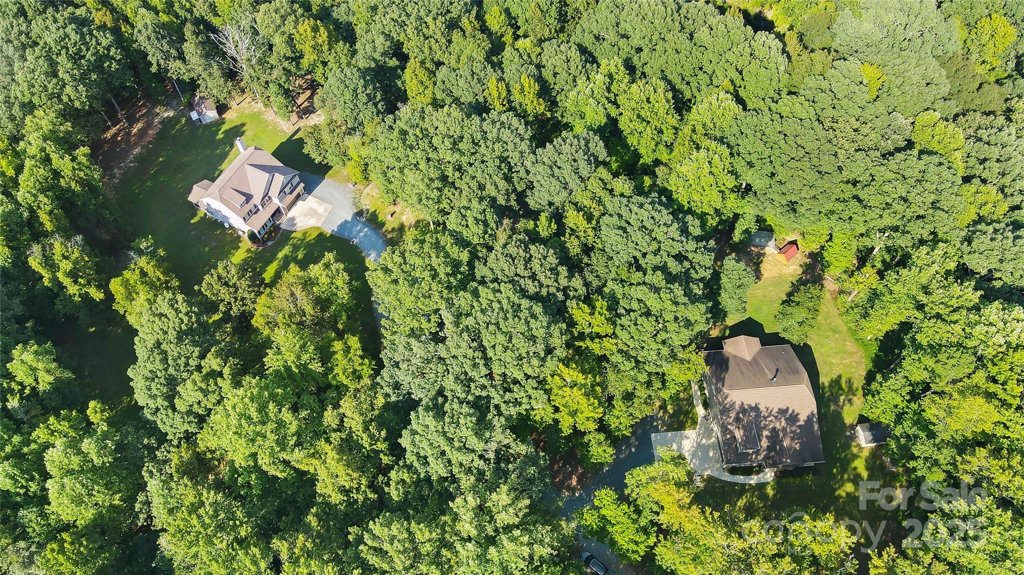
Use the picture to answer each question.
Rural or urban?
rural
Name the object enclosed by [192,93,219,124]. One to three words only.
shed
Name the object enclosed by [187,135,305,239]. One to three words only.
house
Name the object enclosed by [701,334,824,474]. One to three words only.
house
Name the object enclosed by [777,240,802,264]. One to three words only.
shed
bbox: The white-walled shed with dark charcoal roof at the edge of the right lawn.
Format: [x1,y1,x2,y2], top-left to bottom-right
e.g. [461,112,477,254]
[855,422,891,447]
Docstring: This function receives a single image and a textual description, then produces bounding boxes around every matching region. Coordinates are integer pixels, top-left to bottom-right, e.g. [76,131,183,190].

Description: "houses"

[701,334,824,474]
[187,135,305,239]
